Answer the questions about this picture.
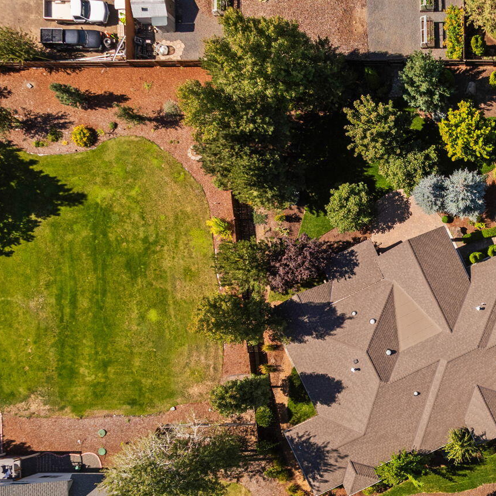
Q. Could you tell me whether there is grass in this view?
Yes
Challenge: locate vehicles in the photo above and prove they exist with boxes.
[37,0,108,27]
[35,23,102,53]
